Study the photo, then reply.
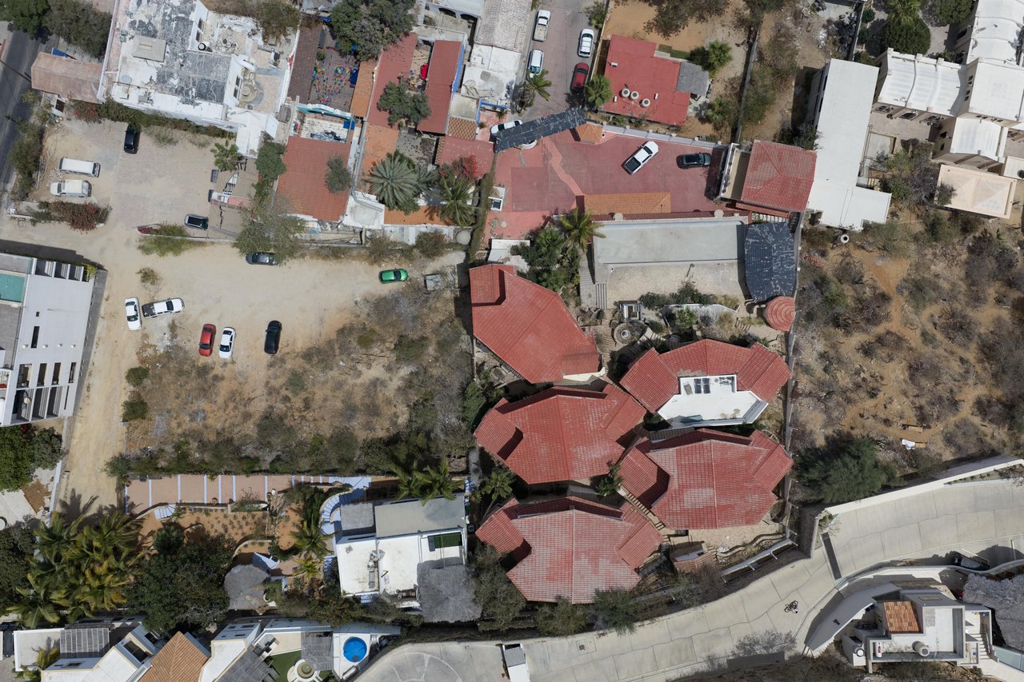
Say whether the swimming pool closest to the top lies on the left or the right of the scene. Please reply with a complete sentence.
You can find the swimming pool closest to the top on the left side of the picture.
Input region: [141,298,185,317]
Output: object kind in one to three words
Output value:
vehicle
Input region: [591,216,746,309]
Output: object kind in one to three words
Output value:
building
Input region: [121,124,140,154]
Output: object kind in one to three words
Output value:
car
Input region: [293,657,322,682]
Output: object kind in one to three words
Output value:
fountain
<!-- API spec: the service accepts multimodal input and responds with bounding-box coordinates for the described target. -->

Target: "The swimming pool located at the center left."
[0,271,26,303]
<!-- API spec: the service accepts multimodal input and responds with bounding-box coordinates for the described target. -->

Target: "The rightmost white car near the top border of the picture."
[578,27,595,60]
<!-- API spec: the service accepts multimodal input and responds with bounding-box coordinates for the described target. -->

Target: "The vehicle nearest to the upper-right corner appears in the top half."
[676,151,710,168]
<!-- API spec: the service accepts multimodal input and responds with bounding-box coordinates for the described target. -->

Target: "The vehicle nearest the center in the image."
[379,268,408,283]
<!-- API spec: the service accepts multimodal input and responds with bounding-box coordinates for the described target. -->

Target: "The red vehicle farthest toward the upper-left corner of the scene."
[198,324,217,356]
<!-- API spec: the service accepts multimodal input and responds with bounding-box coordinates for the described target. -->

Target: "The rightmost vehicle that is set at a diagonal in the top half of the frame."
[621,140,658,176]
